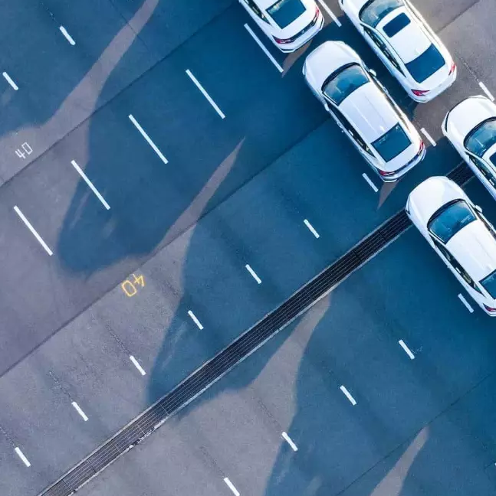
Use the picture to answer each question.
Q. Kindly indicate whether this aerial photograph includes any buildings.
No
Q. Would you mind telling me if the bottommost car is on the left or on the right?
right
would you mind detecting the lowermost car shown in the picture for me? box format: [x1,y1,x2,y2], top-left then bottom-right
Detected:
[406,177,496,314]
